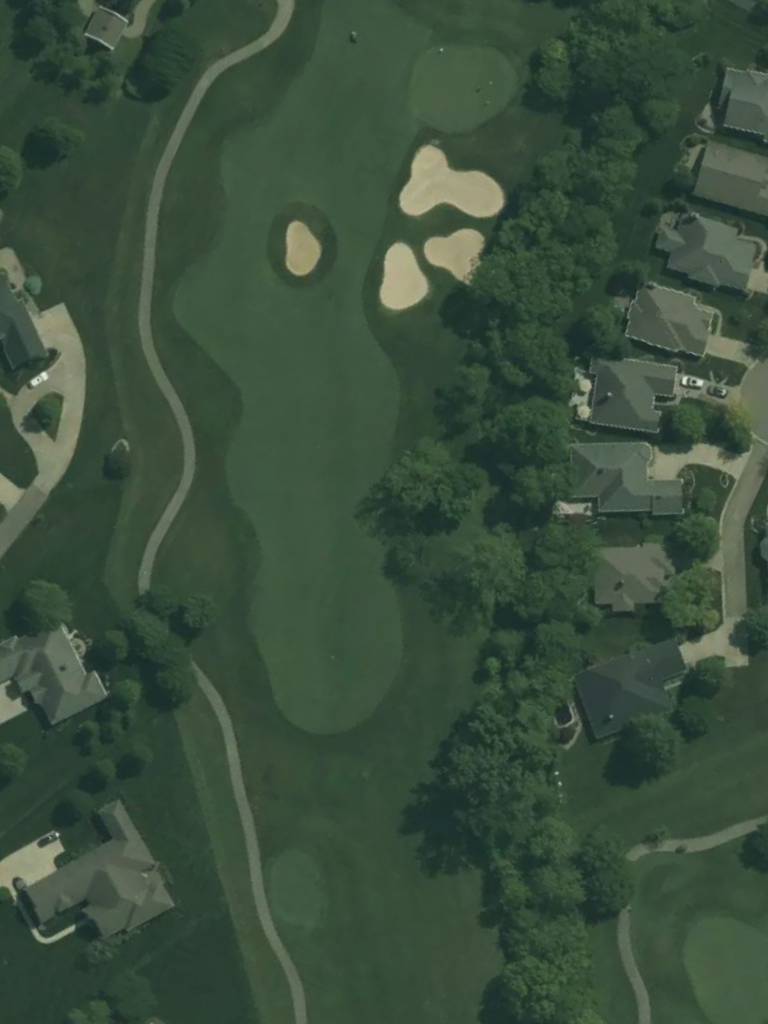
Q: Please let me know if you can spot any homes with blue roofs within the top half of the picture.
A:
No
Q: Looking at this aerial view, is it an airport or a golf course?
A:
golf course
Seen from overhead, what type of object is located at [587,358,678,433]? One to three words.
house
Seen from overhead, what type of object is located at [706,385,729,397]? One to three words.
vehicle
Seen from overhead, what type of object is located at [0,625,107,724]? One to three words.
house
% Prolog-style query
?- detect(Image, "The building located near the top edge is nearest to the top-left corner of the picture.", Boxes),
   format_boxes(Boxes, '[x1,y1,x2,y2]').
[85,6,128,50]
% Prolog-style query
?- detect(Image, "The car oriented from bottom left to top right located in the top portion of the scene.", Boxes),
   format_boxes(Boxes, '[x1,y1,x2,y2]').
[28,372,49,389]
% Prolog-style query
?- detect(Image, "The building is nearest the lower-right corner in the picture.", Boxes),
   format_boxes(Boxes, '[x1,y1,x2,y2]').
[575,639,688,739]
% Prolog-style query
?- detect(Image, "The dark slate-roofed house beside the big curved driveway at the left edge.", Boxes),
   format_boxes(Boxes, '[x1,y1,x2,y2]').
[0,273,47,372]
